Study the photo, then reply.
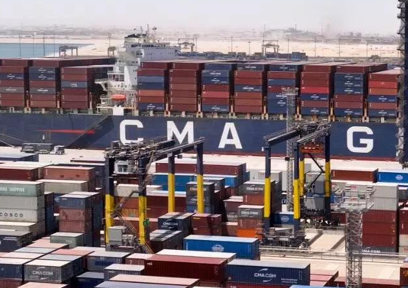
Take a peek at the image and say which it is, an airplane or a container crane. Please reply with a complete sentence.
Of the two, only a container crane appears.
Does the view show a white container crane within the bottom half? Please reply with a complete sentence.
No, no white container crane is visible within the bottom half.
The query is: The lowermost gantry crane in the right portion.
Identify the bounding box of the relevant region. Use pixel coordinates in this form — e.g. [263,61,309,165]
[261,120,334,245]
